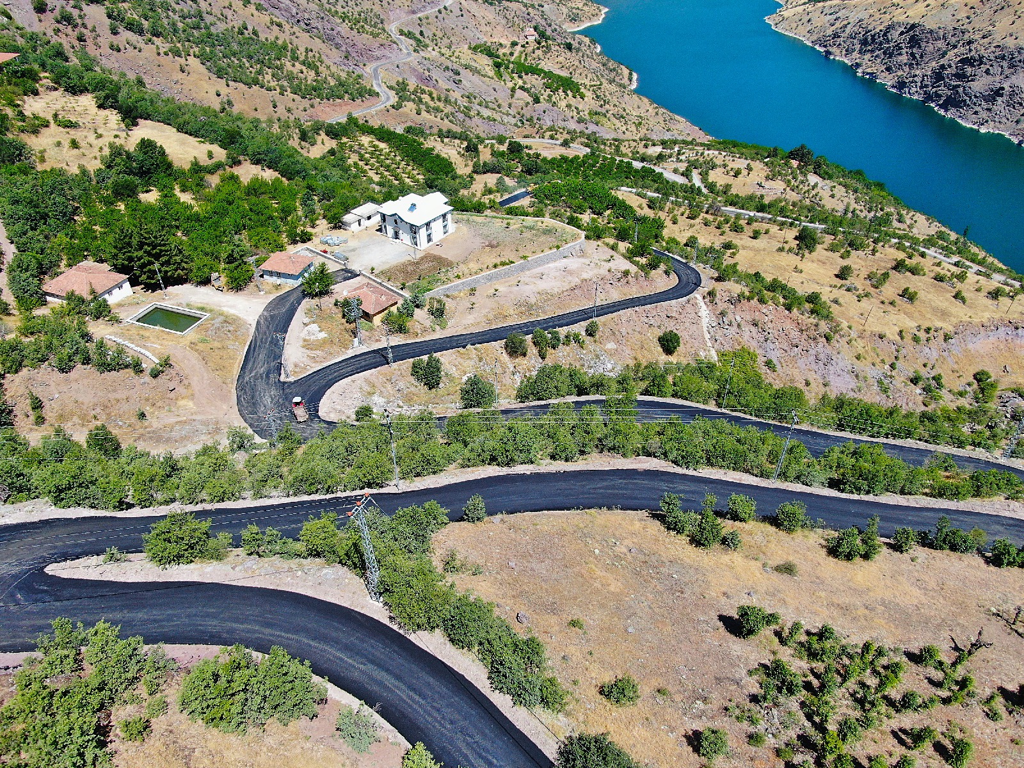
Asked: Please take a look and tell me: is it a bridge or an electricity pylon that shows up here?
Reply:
electricity pylon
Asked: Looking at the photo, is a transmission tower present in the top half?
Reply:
No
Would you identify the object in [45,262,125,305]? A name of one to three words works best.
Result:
house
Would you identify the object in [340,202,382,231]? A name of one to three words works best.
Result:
building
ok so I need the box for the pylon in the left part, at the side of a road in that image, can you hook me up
[340,489,385,605]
